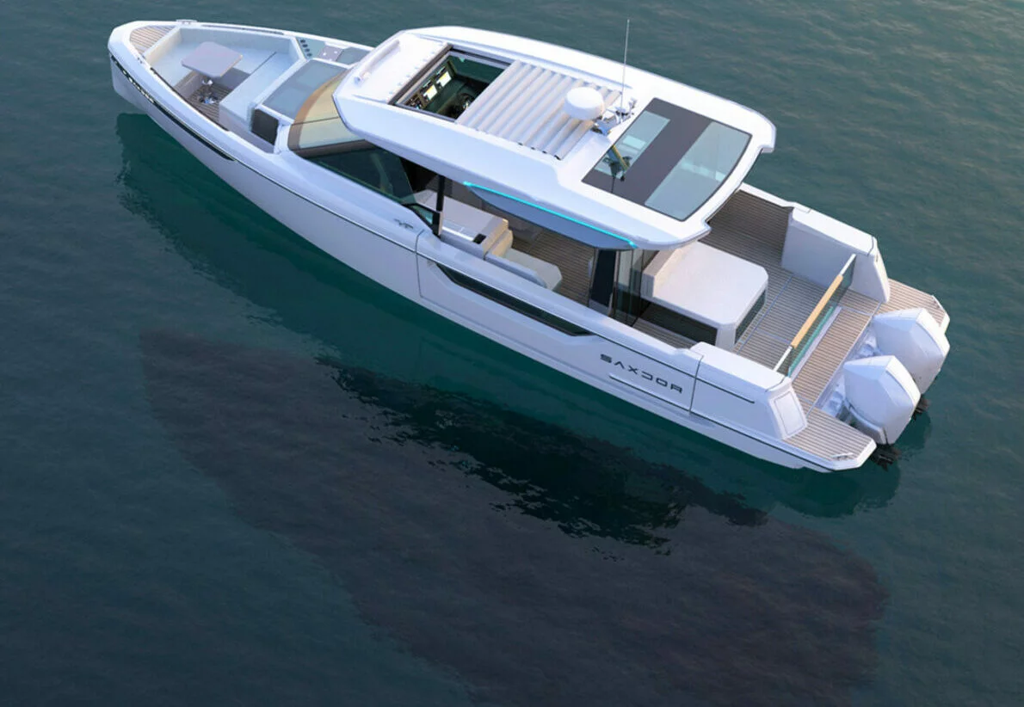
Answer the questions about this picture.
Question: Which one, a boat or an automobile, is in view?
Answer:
boat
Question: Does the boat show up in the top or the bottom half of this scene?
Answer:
top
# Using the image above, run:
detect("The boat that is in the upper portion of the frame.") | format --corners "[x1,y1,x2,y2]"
[103,17,954,473]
